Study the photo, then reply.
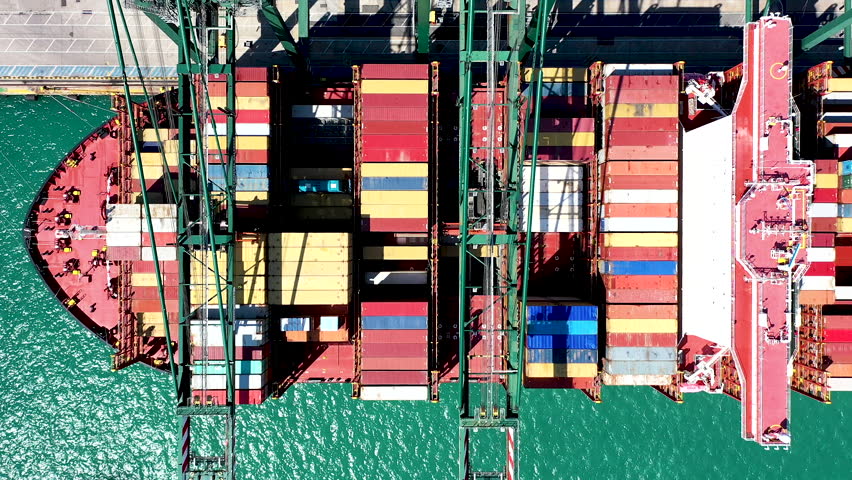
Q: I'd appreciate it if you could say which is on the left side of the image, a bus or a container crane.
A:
container crane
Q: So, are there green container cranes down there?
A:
Yes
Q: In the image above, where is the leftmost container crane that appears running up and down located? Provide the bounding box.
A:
[121,0,310,480]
